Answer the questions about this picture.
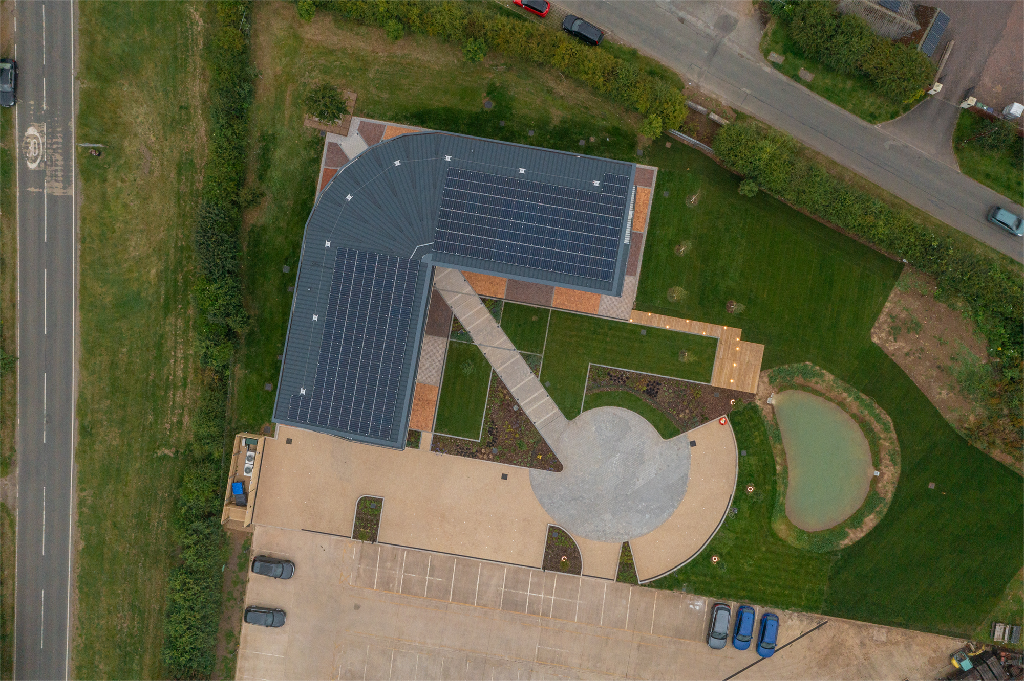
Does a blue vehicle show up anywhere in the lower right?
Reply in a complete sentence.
Yes, a blue vehicle shows up in the lower right.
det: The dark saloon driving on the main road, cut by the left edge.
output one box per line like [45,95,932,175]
[0,58,21,108]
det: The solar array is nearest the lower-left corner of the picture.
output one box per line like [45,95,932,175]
[287,247,419,435]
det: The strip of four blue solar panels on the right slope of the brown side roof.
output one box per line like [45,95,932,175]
[923,10,952,56]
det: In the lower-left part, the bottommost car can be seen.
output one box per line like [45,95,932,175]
[243,603,287,630]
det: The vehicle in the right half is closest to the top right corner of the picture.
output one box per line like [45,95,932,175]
[982,205,1024,238]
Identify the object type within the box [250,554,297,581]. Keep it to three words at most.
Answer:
car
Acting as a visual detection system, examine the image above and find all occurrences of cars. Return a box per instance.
[730,604,755,650]
[560,14,605,46]
[243,603,287,630]
[512,0,554,22]
[982,205,1024,238]
[706,601,732,649]
[250,554,297,581]
[0,58,21,108]
[754,611,779,657]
